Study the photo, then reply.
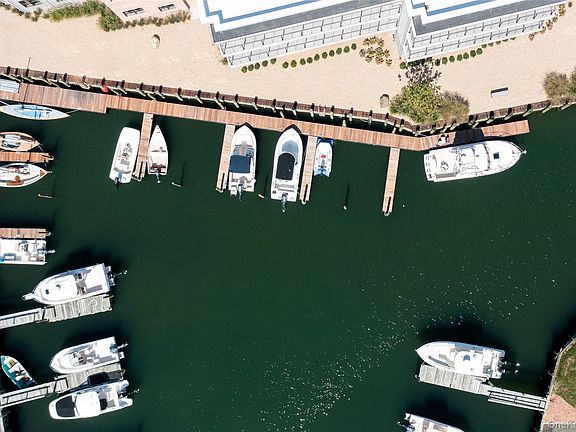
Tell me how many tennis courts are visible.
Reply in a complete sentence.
The picture shows no tennis courts.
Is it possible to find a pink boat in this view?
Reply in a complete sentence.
No, I can see no pink boat in this picture.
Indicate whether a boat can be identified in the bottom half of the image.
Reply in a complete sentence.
Yes, you'll find a boat in the bottom half of the image.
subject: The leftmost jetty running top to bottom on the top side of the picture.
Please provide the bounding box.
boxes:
[129,115,154,183]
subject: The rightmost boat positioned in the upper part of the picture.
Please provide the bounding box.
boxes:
[422,125,529,186]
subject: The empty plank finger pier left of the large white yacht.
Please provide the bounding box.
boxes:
[383,148,400,216]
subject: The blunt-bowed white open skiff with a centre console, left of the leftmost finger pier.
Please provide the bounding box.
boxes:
[110,127,141,191]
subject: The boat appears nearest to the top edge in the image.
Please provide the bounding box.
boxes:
[0,97,79,121]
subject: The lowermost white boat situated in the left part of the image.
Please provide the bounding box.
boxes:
[46,376,134,422]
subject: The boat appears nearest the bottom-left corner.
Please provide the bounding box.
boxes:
[2,356,40,390]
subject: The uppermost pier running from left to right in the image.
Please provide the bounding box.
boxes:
[0,75,529,151]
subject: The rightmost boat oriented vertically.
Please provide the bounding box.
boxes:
[312,138,334,179]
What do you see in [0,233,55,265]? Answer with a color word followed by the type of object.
white boat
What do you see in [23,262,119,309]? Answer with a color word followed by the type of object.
white boat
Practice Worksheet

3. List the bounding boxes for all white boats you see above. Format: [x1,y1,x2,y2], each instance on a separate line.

[271,121,307,213]
[23,262,119,309]
[416,341,517,384]
[395,411,462,432]
[422,125,529,186]
[312,138,334,179]
[46,376,134,422]
[0,161,54,188]
[144,119,168,183]
[0,97,79,121]
[110,127,141,191]
[47,334,128,379]
[221,119,259,204]
[0,233,55,265]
